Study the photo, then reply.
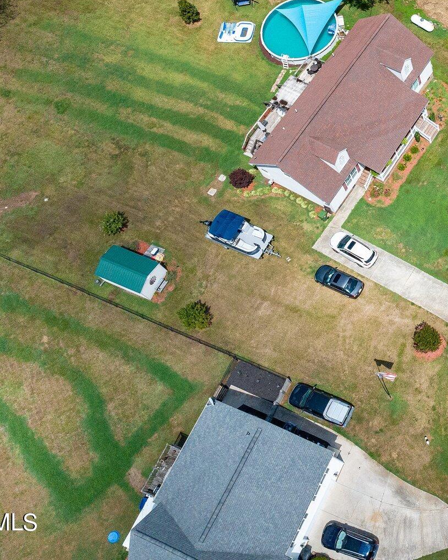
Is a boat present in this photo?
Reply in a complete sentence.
Yes, the picture does show a boat.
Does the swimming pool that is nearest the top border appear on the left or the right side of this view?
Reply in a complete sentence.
The swimming pool that is nearest the top border is on the right side of the image.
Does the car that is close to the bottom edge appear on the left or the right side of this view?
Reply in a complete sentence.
You can find the car that is close to the bottom edge on the right side of the picture.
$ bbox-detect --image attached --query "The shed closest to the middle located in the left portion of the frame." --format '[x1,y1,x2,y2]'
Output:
[94,244,167,299]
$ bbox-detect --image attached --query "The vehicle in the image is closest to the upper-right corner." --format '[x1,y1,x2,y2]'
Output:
[330,233,379,270]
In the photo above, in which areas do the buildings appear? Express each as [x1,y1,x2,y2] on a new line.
[94,244,167,299]
[240,12,441,212]
[122,399,349,560]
